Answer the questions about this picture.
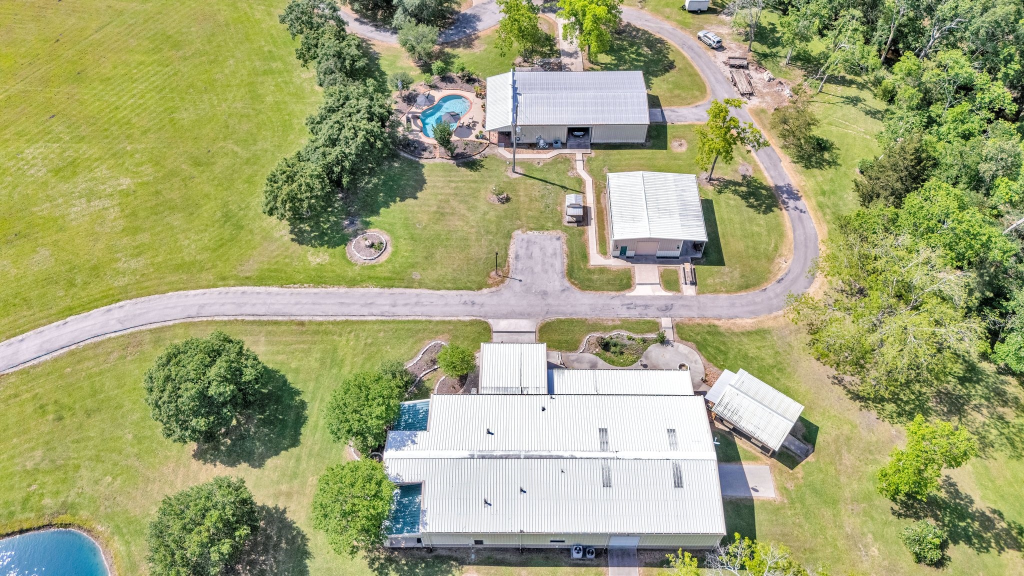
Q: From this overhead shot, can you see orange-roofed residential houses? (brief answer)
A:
No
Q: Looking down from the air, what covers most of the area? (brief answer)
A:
grass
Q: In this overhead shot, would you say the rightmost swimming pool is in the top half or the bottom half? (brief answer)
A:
top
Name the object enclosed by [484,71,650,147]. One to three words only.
building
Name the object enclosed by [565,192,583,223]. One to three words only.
shed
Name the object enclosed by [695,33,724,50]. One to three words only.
car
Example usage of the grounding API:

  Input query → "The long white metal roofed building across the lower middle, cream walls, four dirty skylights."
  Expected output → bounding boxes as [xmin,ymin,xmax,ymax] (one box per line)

[382,342,727,555]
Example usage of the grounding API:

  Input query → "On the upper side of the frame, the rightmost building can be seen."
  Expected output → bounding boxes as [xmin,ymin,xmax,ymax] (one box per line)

[603,166,709,258]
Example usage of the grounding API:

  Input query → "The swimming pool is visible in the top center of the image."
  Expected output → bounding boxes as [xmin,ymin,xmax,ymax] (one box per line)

[418,92,477,140]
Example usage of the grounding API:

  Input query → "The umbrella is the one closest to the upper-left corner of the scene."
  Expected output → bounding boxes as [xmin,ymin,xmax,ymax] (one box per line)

[417,84,435,106]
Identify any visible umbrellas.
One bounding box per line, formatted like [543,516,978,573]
[417,84,435,106]
[443,108,462,125]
